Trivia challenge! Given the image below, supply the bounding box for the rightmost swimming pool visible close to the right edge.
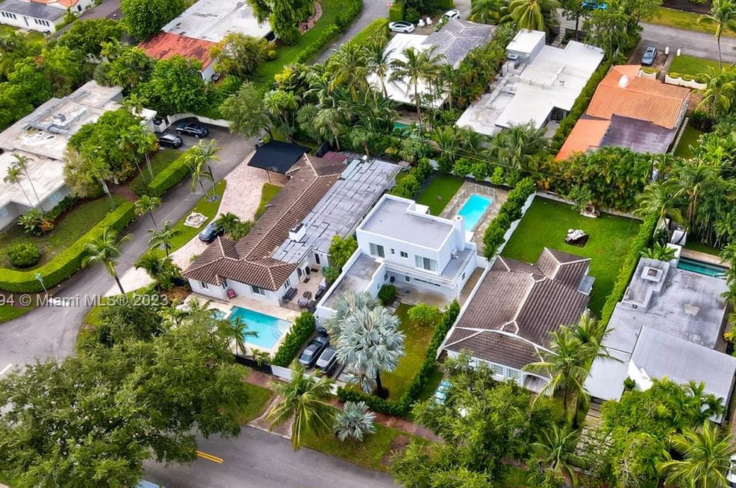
[681,259,735,284]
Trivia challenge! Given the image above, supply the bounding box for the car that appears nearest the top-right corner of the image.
[640,43,657,65]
